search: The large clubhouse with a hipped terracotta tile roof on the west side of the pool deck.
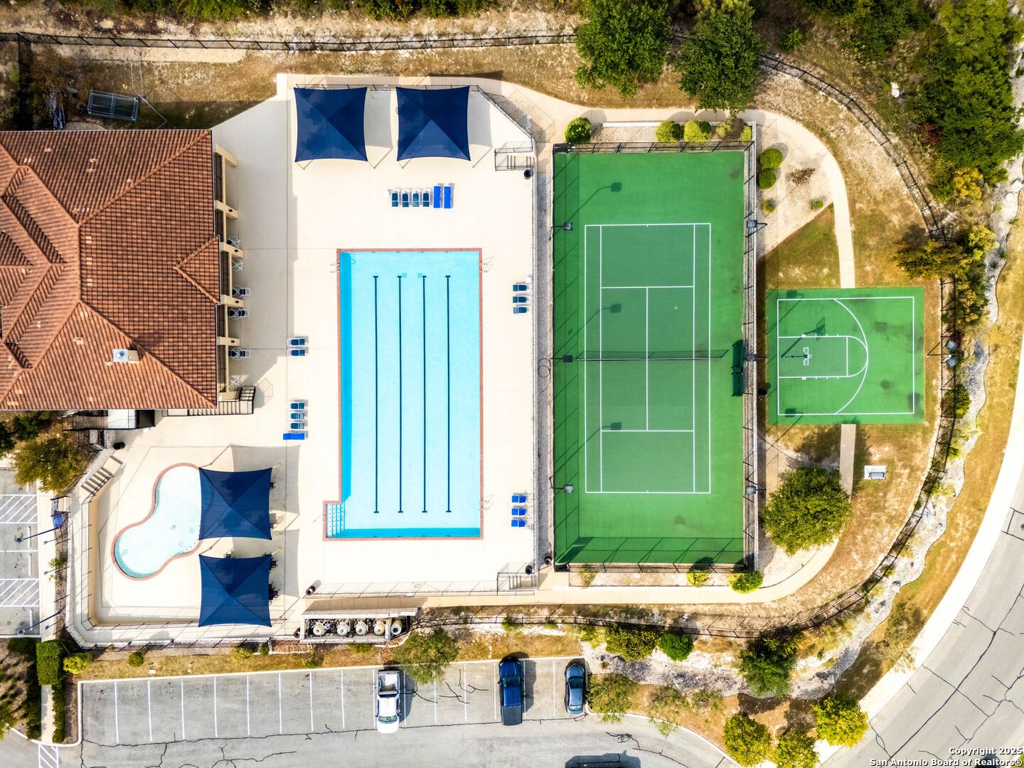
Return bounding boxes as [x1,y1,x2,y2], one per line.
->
[0,128,244,412]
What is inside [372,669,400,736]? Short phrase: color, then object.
white truck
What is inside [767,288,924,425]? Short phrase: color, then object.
green basketball court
